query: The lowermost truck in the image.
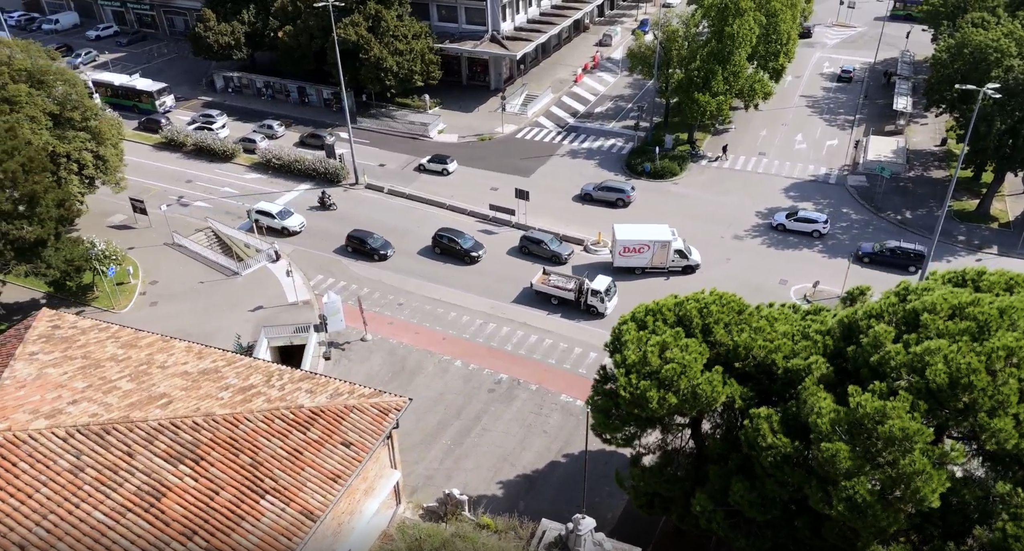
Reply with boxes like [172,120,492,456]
[526,262,620,317]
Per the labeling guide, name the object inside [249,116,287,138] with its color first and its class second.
gray car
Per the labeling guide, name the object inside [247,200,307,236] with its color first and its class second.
white car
